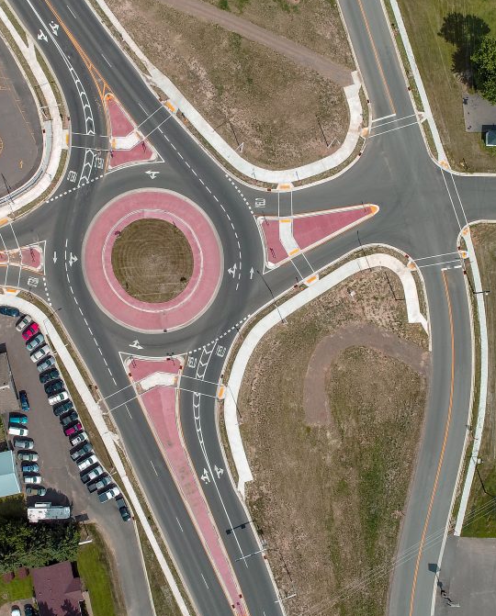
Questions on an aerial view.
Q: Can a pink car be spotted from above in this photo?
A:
Yes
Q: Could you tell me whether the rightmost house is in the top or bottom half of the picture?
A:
bottom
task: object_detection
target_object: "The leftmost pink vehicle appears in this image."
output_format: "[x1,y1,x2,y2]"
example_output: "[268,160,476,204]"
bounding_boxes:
[21,322,40,340]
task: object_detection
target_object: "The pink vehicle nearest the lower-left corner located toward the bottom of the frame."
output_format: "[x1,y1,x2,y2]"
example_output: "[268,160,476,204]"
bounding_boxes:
[62,422,85,436]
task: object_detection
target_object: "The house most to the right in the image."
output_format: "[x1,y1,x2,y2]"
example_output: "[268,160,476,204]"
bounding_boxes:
[32,560,86,616]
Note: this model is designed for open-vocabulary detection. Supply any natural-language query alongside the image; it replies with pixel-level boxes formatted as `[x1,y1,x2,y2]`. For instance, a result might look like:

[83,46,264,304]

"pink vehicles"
[62,422,85,436]
[21,322,40,340]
